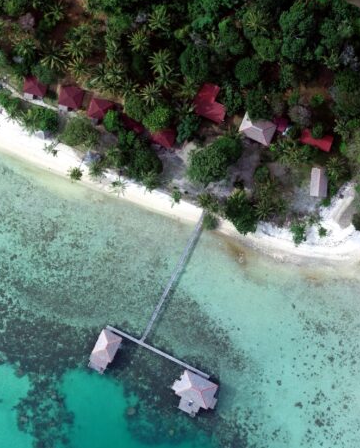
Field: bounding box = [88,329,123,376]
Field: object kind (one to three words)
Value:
shed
